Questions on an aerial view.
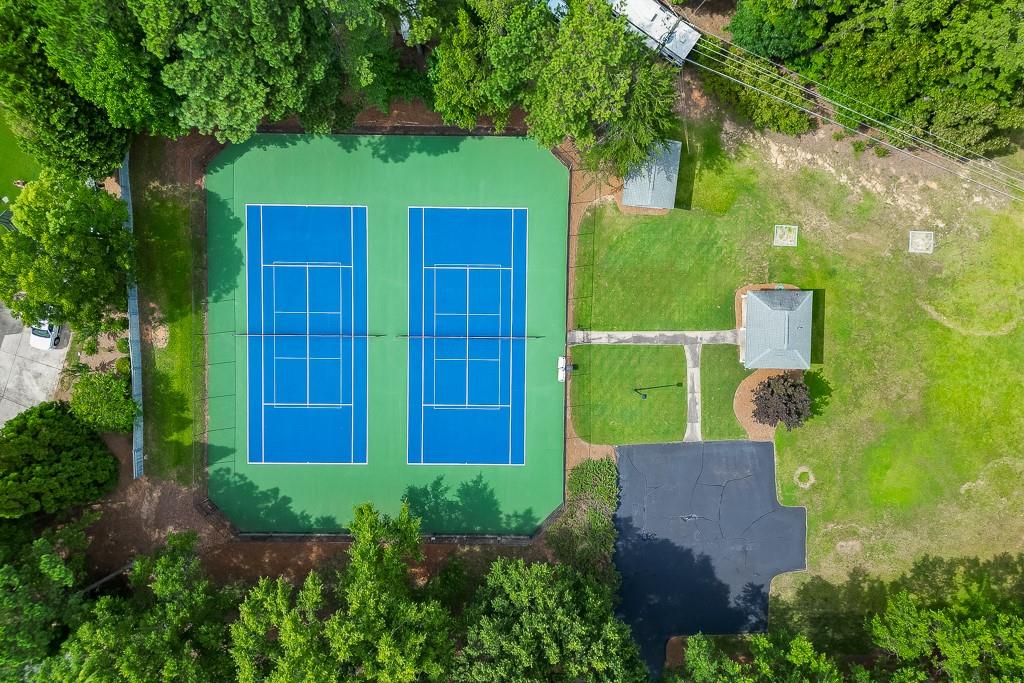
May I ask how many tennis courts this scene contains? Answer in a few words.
two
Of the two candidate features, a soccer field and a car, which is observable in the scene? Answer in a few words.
car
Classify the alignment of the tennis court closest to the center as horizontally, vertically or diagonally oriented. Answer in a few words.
vertically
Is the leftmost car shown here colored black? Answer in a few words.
No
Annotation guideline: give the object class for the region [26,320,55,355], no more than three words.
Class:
car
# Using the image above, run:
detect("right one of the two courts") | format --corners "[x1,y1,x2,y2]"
[407,207,528,465]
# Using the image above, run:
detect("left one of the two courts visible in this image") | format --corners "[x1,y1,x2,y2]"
[246,204,367,464]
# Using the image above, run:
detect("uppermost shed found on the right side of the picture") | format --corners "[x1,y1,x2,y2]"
[622,138,681,209]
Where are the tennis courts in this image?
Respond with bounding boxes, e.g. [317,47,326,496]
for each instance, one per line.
[407,207,528,465]
[246,204,367,464]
